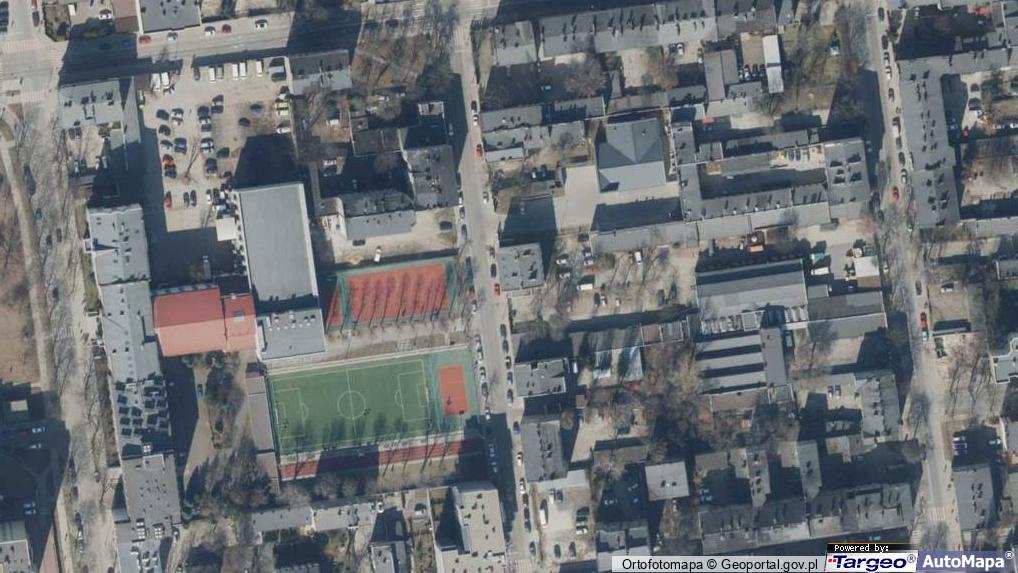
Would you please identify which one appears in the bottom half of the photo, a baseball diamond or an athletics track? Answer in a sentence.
Looking in the bottom half of the photo, you will find an athletics track.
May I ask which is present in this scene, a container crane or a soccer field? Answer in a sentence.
The image shows a soccer field.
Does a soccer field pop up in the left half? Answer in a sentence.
Yes, I can see a soccer field in the left half.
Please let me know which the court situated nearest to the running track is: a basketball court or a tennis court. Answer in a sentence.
The court situated nearest to the running track is a basketball court.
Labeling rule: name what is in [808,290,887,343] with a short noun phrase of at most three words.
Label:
building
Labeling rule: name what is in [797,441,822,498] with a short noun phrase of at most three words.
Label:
building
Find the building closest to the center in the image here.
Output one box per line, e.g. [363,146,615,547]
[498,243,545,292]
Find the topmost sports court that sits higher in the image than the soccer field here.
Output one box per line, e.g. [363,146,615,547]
[327,258,461,332]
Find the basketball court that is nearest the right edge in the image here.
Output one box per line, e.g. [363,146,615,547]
[425,348,483,432]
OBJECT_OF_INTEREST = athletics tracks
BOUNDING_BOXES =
[279,428,486,480]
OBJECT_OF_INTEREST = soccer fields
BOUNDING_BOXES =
[267,355,432,455]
